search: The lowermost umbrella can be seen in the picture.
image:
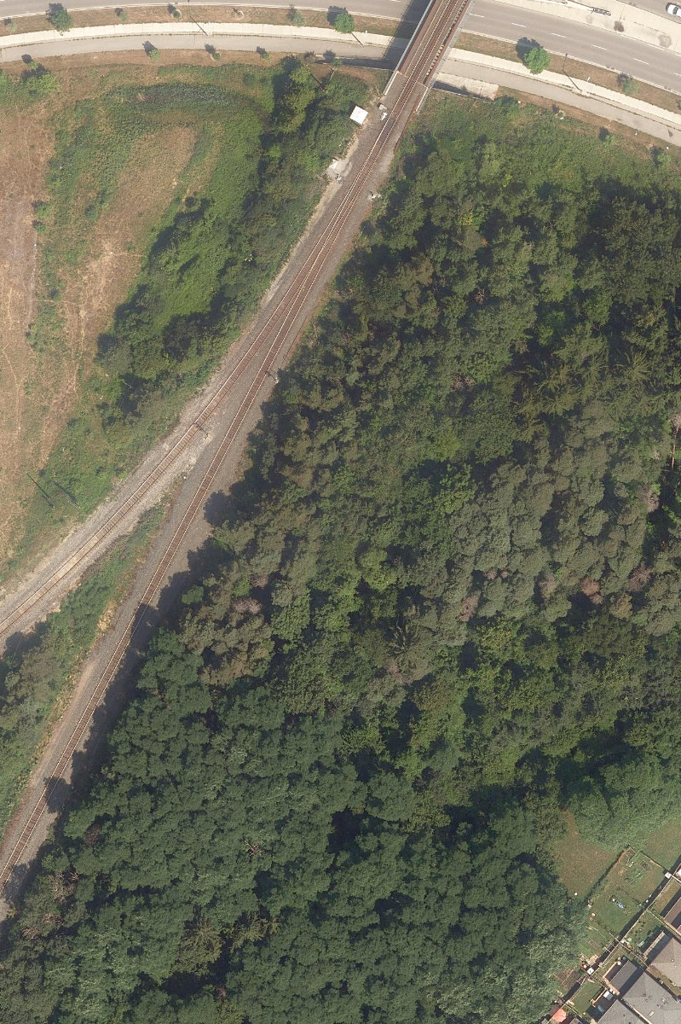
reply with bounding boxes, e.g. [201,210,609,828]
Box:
[553,1008,567,1022]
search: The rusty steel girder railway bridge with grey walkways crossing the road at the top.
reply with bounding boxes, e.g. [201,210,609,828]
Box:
[394,0,479,89]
